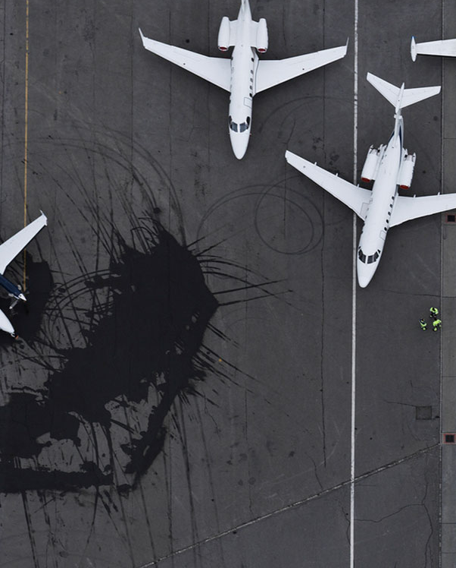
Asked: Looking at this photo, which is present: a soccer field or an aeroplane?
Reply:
aeroplane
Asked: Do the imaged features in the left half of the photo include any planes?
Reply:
Yes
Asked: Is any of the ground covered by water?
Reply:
No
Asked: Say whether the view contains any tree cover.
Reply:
No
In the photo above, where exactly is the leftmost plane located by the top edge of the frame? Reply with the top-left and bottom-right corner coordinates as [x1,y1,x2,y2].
[139,0,348,161]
